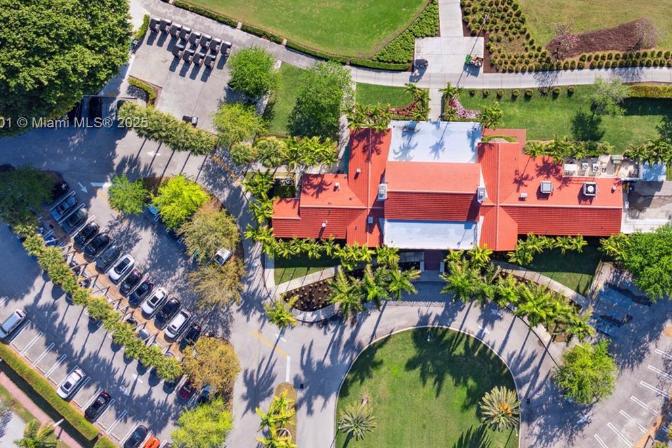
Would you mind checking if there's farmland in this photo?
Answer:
No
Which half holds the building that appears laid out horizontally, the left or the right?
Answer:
right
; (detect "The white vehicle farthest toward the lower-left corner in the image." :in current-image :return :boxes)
[58,368,88,398]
